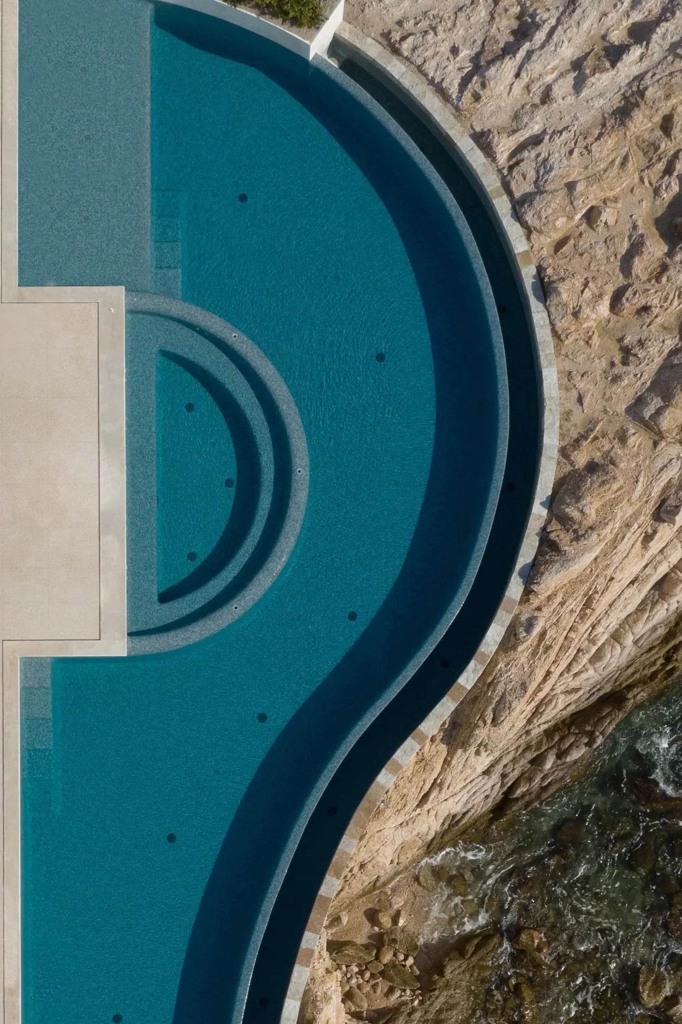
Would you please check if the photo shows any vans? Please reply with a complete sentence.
No, there isn't any van down there.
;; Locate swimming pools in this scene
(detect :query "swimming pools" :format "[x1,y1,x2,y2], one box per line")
[2,0,509,1024]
